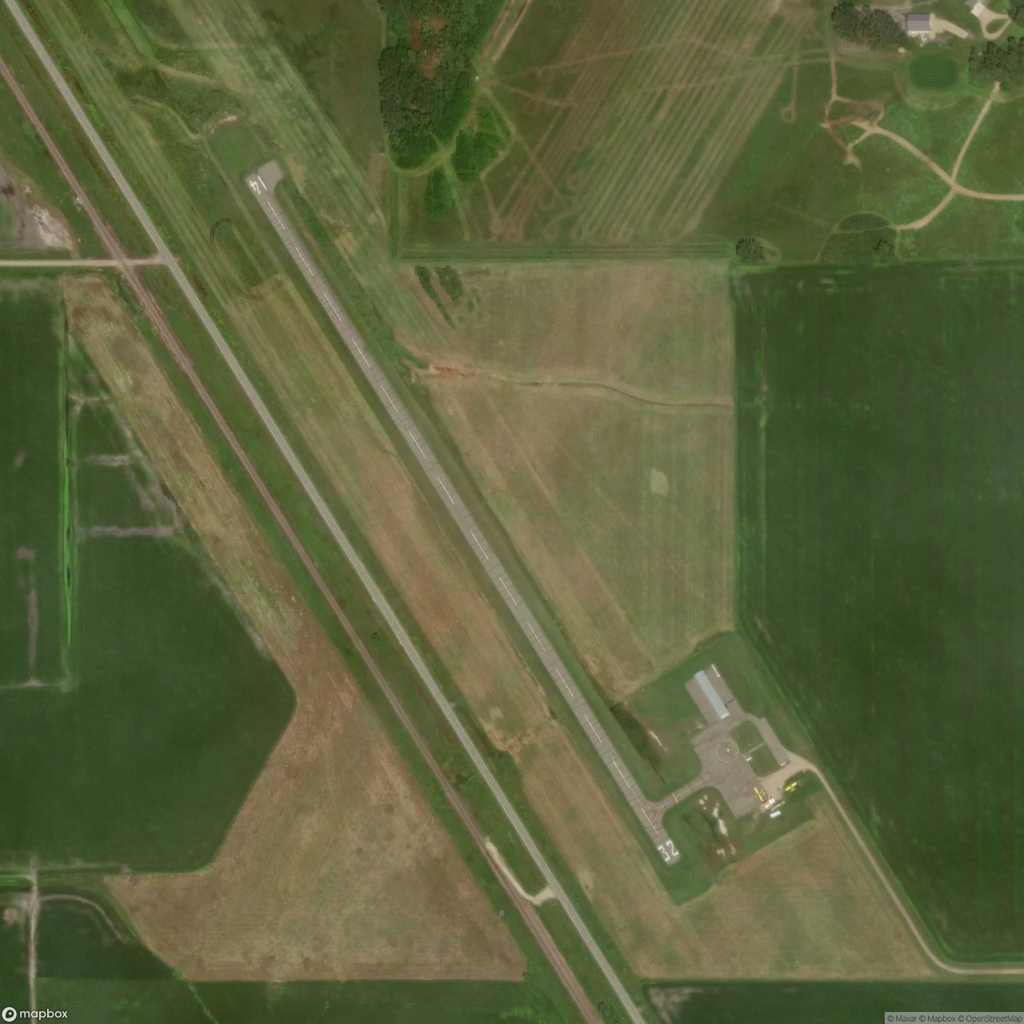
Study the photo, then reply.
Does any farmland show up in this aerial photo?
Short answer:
Yes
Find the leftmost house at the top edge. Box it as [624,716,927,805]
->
[907,13,931,40]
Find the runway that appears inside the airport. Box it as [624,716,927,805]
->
[245,161,680,864]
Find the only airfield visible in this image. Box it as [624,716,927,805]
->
[245,161,790,864]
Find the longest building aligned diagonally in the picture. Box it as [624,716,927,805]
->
[693,671,730,718]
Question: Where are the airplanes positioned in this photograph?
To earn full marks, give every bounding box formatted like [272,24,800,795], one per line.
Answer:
[754,787,765,801]
[785,782,797,791]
